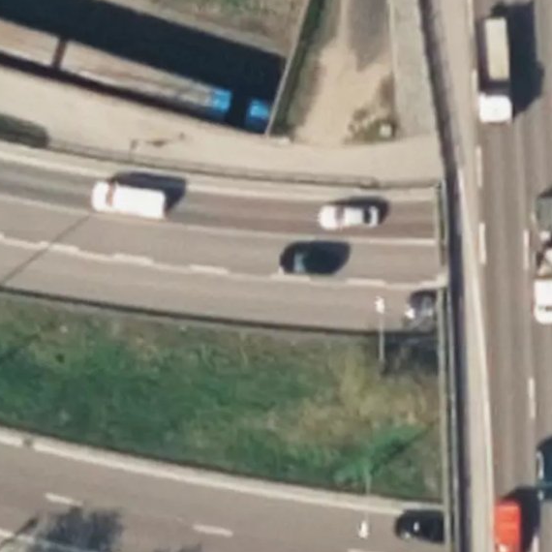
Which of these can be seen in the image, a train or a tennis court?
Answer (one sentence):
This aerial view contains a train.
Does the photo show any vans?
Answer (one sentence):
Yes, there's a van here.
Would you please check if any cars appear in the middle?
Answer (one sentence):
Yes, a car appears in the middle.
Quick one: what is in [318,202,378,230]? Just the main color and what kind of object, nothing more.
white car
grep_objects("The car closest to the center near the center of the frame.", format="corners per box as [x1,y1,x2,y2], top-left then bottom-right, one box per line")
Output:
[279,243,339,272]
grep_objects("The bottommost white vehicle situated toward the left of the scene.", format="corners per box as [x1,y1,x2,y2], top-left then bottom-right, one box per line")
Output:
[91,181,167,216]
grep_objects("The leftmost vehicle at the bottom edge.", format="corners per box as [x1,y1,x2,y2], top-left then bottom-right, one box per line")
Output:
[396,512,446,543]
